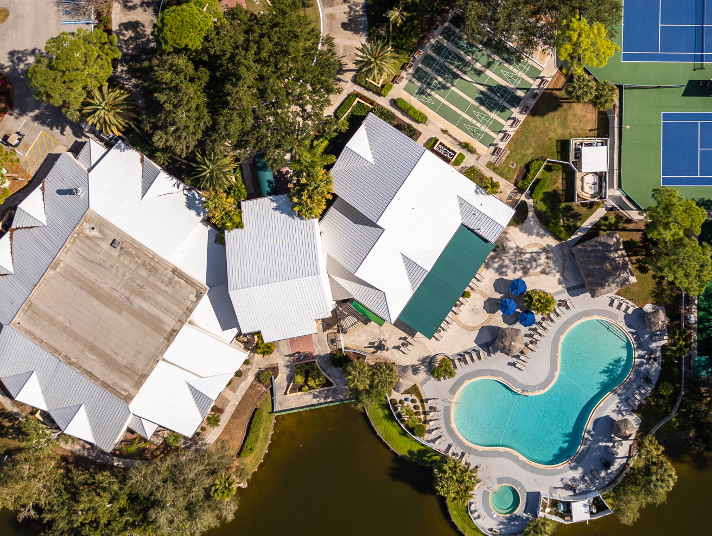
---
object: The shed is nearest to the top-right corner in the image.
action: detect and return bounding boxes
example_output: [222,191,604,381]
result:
[581,146,609,171]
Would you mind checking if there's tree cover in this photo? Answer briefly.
Yes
